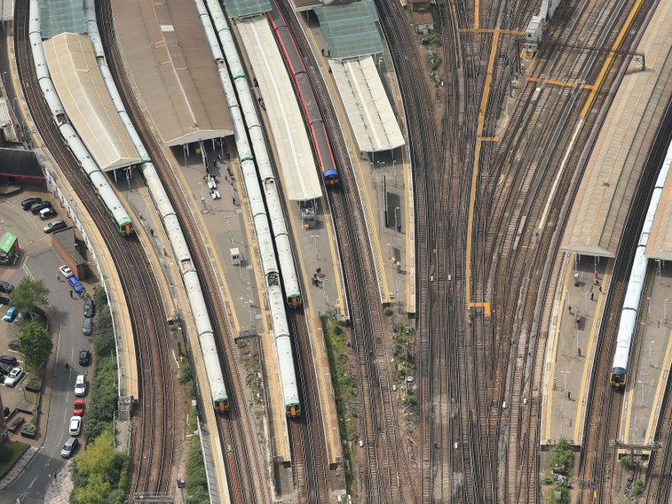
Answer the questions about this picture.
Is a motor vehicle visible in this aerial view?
Yes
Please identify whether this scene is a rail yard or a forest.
rail yard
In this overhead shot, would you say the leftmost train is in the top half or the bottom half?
top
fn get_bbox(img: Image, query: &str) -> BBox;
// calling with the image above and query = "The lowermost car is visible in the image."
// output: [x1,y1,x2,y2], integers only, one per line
[58,433,78,455]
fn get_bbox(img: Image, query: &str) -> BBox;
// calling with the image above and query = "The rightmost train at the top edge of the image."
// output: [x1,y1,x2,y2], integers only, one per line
[267,0,336,186]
